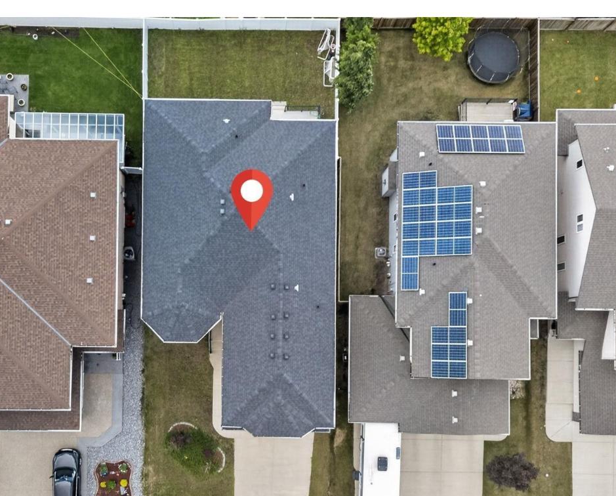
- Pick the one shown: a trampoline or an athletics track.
trampoline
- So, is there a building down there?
Yes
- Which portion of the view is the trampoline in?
top right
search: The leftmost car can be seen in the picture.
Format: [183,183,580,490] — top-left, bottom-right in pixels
[48,447,81,496]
